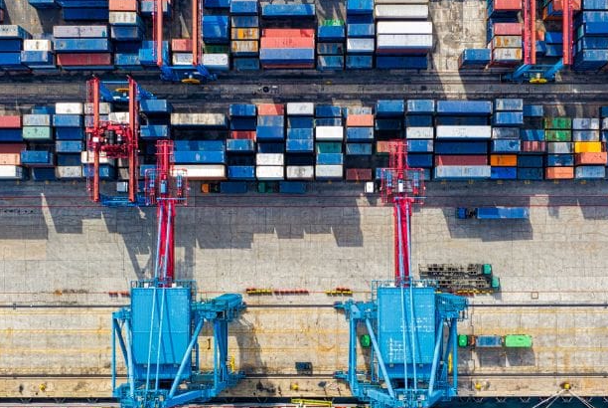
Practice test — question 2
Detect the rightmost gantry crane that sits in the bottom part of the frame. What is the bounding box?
[334,140,462,408]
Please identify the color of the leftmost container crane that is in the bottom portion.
blue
